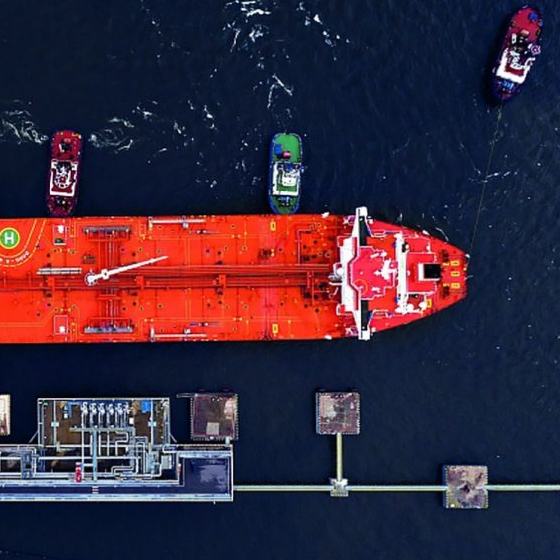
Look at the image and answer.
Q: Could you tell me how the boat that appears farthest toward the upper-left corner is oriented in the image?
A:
from top to bottom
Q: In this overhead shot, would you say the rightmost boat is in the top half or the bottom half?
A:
top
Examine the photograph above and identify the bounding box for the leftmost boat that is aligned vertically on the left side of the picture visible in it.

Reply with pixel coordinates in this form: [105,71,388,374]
[47,130,84,217]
